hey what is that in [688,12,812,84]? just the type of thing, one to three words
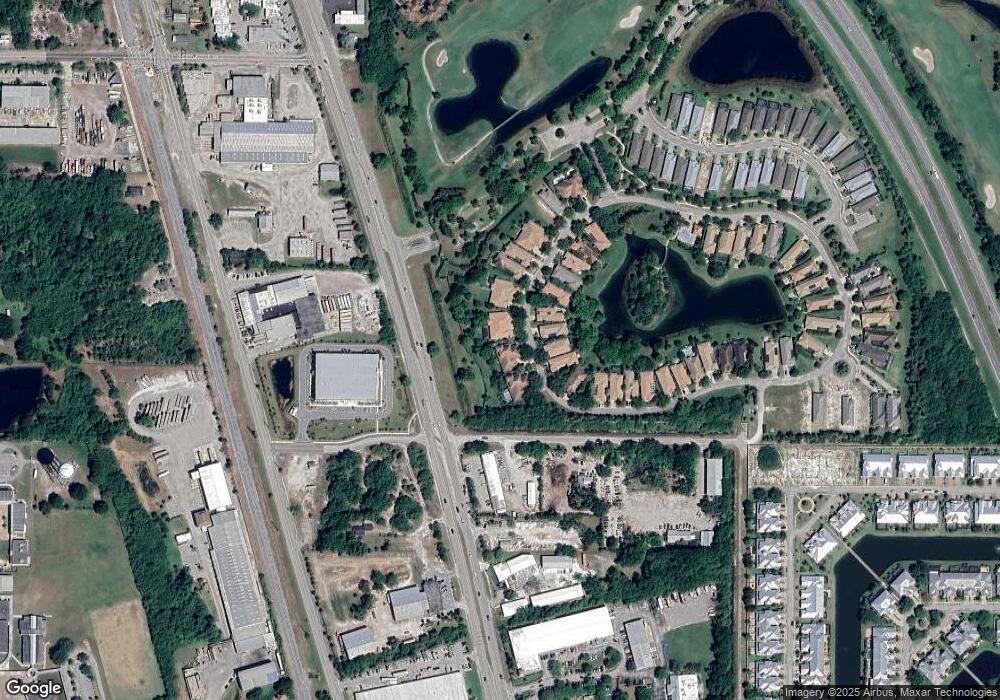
pond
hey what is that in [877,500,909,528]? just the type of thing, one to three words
house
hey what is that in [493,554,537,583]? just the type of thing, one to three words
building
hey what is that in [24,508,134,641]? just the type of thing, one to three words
sports field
